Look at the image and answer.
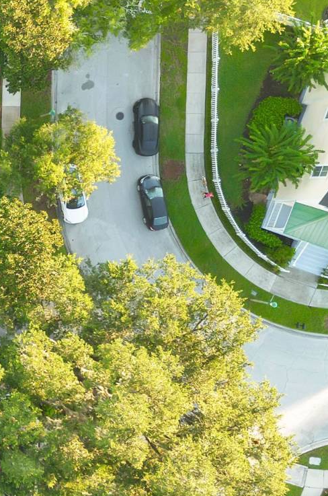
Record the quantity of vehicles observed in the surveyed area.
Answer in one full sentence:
There are 3 vehicles in the image.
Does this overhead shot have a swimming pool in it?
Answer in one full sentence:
No, the frame has no swimming pool in it.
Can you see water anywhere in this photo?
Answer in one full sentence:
No, there is no water in the image.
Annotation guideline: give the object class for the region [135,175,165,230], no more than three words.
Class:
car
